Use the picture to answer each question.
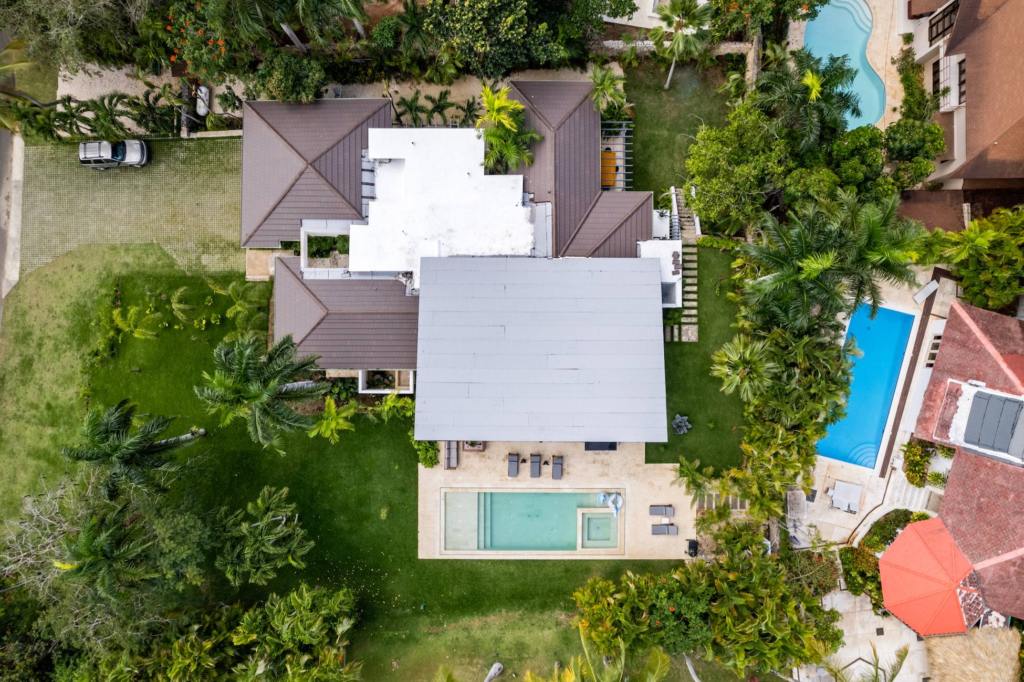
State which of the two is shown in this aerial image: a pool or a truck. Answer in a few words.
pool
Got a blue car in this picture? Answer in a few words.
No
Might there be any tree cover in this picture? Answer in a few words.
Yes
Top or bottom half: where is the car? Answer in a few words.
top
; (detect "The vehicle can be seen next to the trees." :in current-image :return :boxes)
[78,136,150,171]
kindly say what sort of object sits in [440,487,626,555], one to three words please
swimming pool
